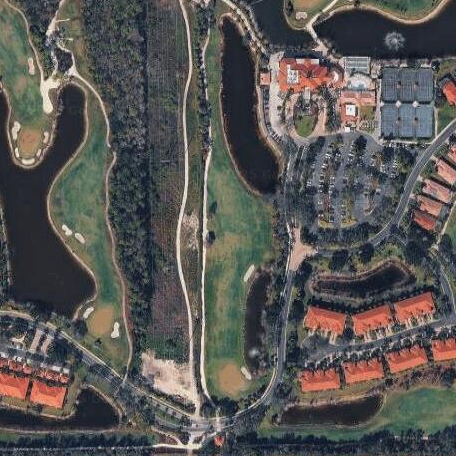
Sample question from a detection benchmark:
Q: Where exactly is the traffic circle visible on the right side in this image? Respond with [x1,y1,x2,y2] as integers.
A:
[283,97,325,140]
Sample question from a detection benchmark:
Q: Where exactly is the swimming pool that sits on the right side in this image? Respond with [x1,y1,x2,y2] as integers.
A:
[347,73,375,90]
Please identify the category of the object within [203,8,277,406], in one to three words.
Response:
golf course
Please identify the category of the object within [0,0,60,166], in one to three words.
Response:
golf course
